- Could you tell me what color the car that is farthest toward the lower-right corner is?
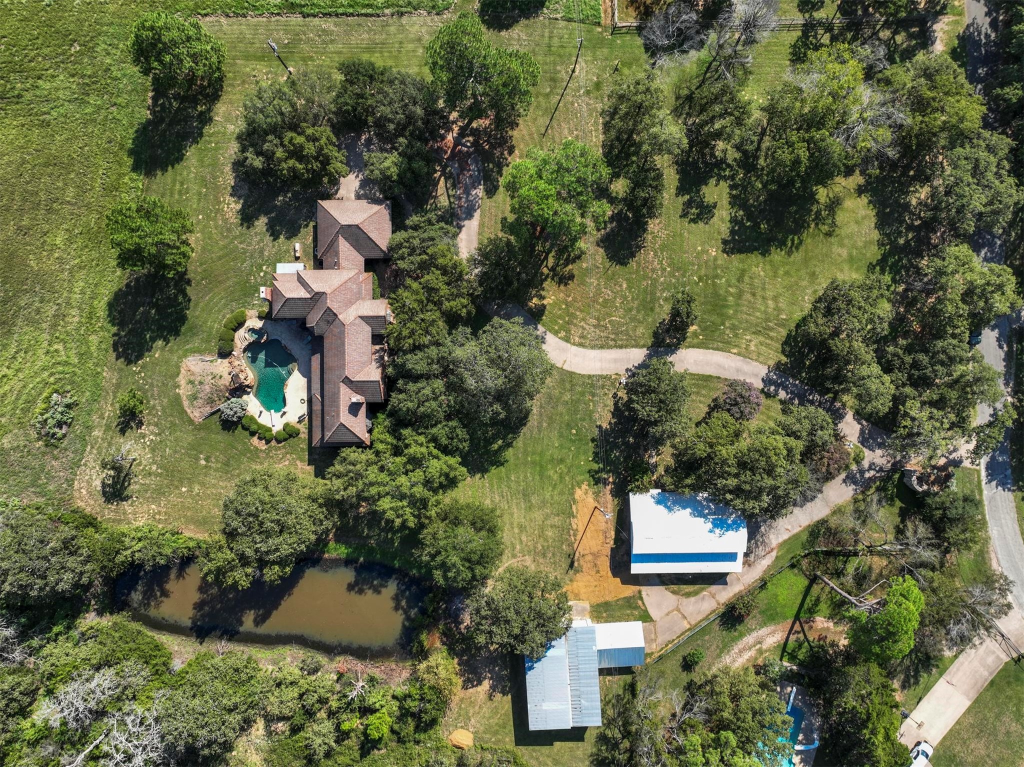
white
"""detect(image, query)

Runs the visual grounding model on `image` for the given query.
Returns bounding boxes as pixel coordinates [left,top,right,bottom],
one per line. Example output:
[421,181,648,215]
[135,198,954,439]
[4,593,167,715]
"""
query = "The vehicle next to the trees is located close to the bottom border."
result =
[912,746,934,767]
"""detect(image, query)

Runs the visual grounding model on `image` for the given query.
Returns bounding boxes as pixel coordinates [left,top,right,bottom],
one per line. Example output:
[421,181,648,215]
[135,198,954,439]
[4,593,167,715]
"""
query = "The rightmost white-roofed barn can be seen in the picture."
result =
[629,488,748,574]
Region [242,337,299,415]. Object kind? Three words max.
swimming pool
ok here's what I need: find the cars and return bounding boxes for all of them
[967,315,983,344]
[912,746,934,767]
